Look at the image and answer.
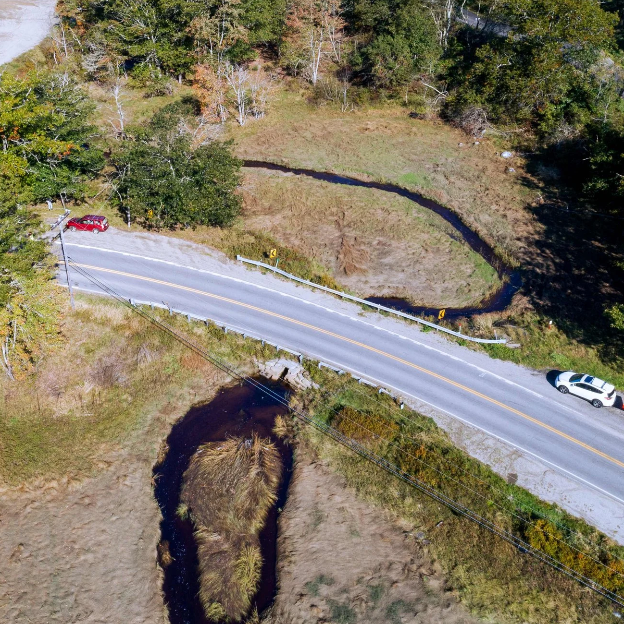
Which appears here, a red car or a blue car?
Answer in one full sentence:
The image shows a red car.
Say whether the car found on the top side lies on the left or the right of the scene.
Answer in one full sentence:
The car found on the top side is on the left side of the image.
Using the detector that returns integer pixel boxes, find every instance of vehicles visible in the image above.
[65,213,110,235]
[555,371,620,409]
